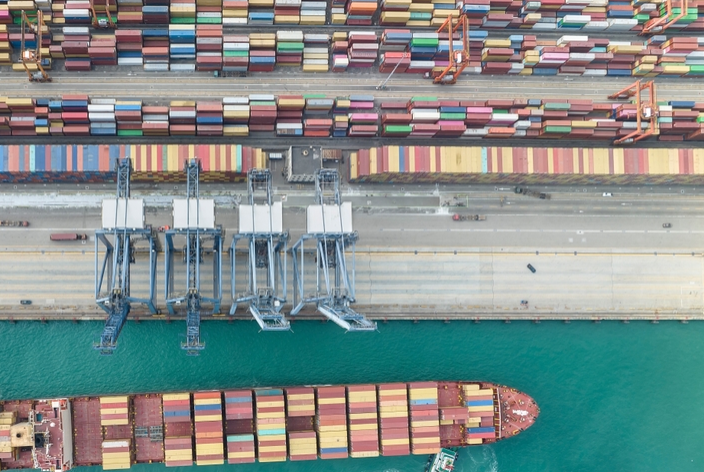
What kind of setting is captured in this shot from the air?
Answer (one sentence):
The area seen from above is a port.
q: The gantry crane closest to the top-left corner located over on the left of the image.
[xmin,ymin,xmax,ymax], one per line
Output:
[20,10,54,79]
